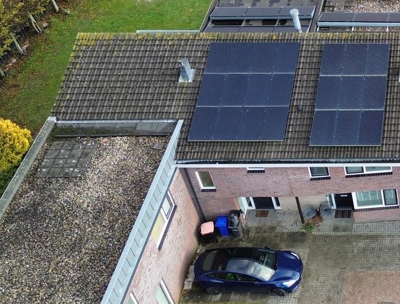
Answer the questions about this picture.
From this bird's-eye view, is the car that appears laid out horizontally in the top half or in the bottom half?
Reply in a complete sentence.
The bottom half of the photo is where the car that appears laid out horizontally is.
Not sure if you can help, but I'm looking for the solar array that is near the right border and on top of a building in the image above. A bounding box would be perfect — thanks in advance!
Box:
[308,41,391,145]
